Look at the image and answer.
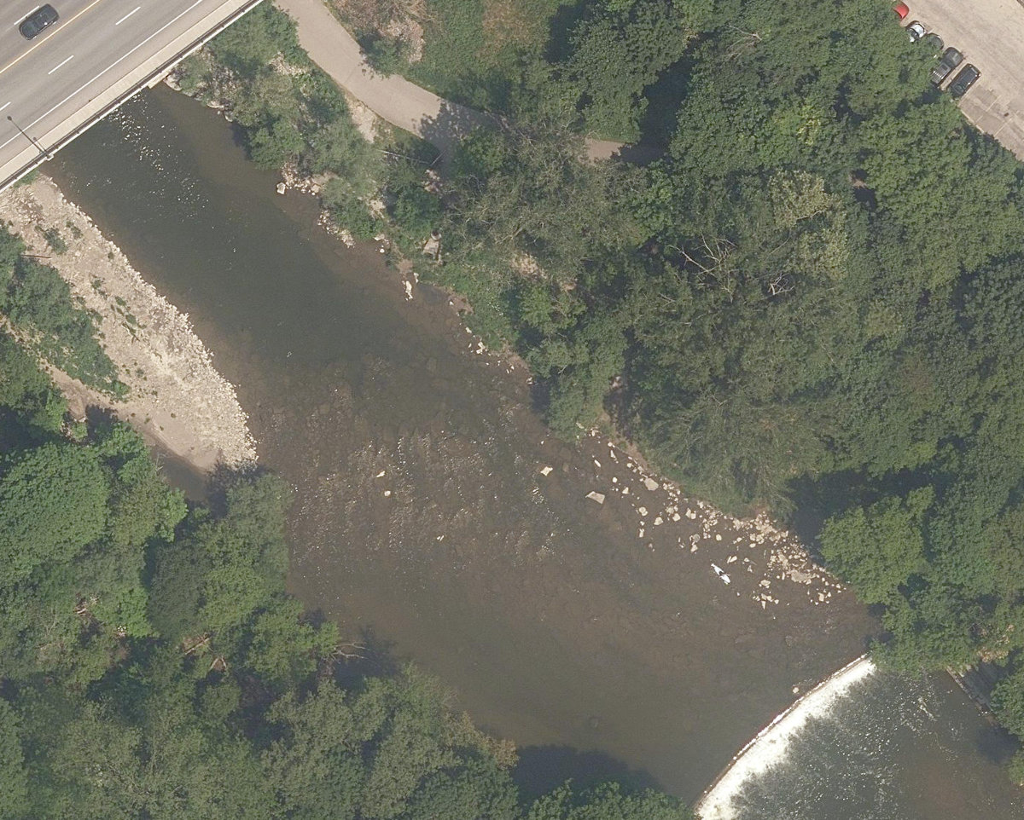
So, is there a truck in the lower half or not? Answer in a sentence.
No, no truck appears in the lower half.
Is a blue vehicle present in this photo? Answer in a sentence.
No, there isn't any blue vehicle down there.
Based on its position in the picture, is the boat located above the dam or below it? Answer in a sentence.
In the image, the boat sits above the dam.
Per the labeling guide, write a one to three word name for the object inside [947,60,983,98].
car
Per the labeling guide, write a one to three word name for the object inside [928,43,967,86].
truck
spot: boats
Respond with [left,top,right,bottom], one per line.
[711,564,731,585]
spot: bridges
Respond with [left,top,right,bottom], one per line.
[0,0,269,194]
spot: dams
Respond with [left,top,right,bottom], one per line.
[690,647,889,820]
